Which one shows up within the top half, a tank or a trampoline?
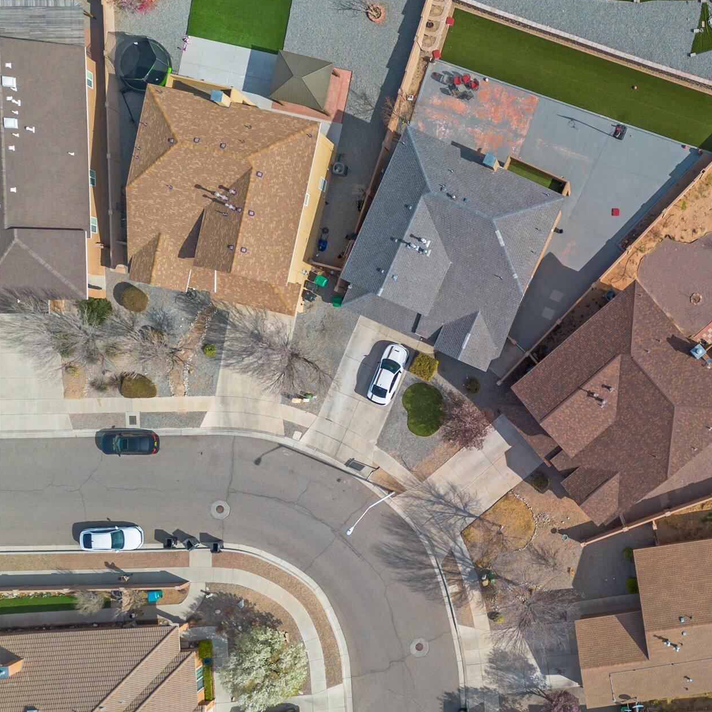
trampoline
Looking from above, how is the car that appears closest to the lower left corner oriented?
from left to right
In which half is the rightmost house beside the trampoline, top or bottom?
top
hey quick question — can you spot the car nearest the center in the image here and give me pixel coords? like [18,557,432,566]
[367,343,409,406]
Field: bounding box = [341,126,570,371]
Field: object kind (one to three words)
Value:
house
